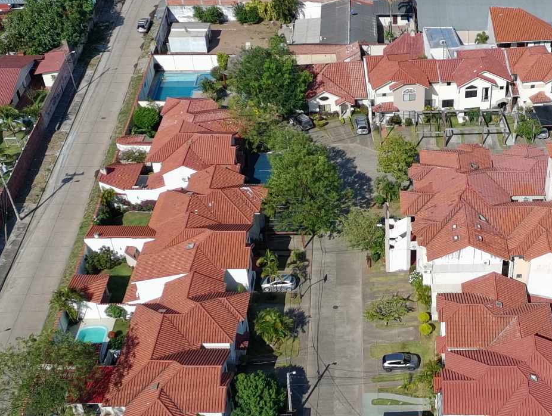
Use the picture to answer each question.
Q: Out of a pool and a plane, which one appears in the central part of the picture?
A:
pool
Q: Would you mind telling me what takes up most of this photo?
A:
buildings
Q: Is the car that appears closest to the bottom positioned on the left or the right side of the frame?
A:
right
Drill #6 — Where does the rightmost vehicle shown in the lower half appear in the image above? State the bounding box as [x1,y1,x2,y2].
[379,350,422,374]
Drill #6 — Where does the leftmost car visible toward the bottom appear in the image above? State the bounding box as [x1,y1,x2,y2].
[261,274,296,293]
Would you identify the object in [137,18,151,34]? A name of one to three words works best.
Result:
vehicle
